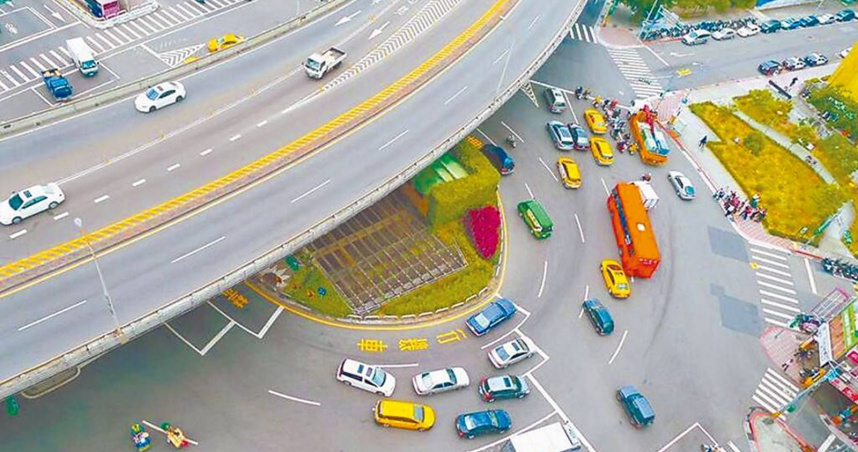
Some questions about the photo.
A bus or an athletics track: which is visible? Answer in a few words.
bus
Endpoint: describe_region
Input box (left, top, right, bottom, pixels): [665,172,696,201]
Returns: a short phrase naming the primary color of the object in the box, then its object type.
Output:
white car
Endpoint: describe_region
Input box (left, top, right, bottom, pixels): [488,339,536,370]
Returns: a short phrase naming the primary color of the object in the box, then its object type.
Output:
white car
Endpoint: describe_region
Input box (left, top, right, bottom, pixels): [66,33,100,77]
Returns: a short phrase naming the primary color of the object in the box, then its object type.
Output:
white truck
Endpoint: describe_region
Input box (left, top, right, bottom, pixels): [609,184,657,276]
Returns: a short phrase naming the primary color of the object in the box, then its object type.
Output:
orange bus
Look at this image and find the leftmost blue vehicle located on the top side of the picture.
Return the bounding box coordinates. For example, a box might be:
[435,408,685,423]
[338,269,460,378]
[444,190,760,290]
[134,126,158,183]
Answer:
[42,69,73,102]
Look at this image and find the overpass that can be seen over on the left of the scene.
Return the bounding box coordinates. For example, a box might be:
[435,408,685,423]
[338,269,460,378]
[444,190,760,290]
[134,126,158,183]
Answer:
[0,0,587,404]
